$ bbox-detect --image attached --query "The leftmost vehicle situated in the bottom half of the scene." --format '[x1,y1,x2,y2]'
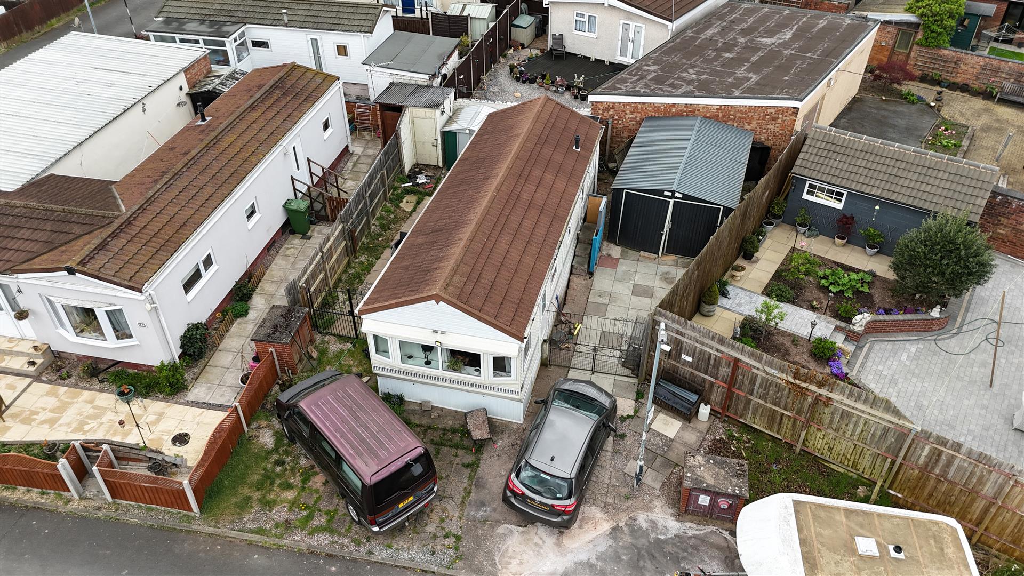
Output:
[500,385,615,532]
